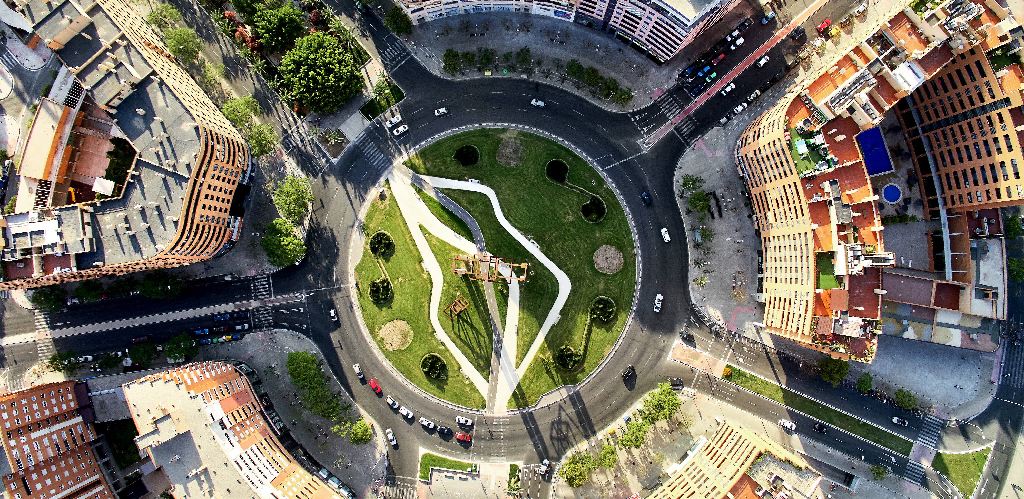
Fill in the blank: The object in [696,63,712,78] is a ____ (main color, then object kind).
blue vehicle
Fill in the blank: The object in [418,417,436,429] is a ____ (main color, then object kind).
white vehicle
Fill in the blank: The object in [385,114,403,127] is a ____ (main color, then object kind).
white vehicle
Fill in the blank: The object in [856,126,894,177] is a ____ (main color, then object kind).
blue swimming pool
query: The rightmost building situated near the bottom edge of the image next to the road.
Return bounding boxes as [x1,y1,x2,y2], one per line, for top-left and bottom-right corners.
[665,422,824,499]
